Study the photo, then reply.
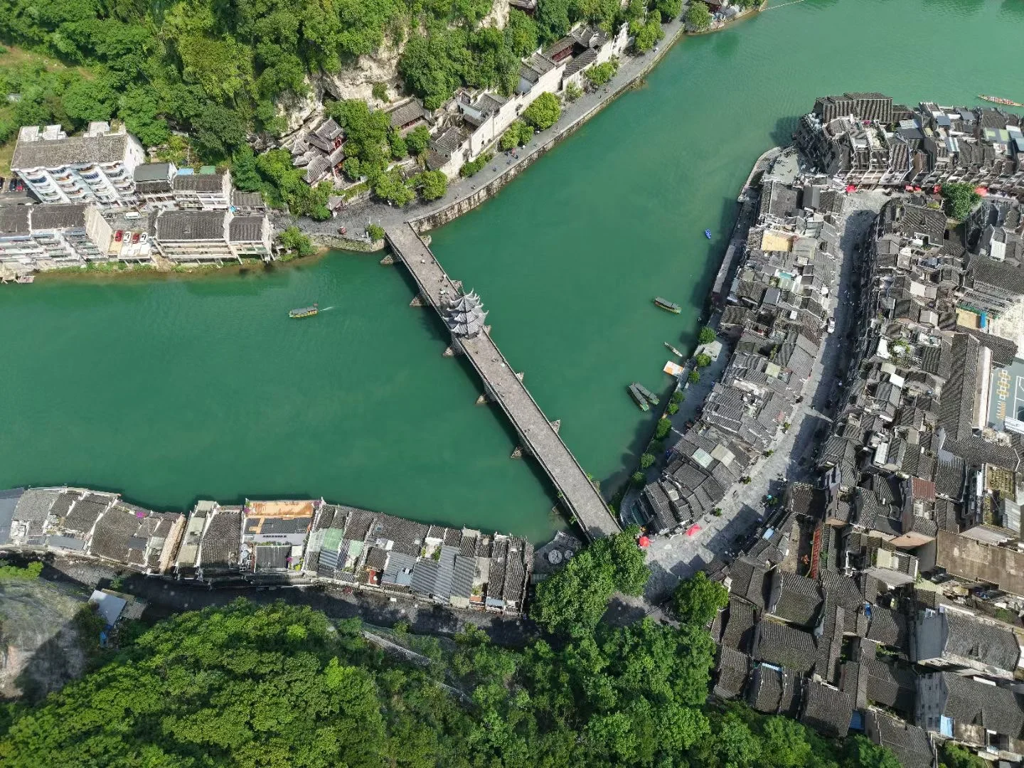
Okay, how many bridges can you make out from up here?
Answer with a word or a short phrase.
one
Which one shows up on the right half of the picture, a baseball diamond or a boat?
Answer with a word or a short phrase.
boat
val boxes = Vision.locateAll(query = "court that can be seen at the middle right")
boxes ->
[986,356,1024,428]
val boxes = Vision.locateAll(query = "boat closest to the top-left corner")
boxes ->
[287,303,318,316]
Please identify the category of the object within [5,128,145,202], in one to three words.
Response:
building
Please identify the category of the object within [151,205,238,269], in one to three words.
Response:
house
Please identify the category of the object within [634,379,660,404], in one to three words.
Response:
boat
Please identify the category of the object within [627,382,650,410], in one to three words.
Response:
boat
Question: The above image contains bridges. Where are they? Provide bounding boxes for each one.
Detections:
[382,219,615,541]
